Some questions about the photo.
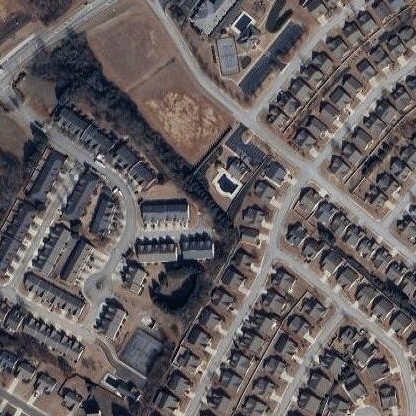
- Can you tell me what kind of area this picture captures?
residential area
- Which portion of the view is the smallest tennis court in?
top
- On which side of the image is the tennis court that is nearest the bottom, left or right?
left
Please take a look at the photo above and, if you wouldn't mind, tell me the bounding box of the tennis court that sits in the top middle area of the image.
[216,37,240,74]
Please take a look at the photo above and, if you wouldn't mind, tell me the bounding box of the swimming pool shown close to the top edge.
[230,11,257,40]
